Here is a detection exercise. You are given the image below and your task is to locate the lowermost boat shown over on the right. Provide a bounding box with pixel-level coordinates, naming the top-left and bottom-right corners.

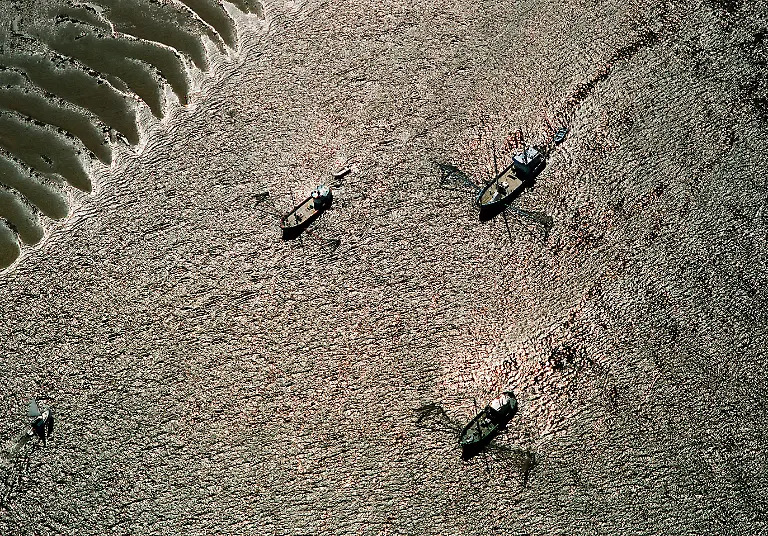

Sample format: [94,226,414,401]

[416,391,537,474]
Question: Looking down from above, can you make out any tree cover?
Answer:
No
